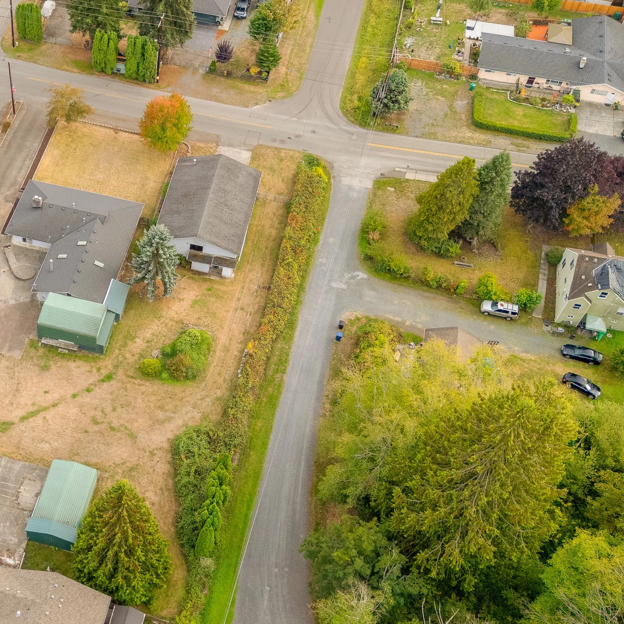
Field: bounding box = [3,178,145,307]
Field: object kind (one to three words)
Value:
house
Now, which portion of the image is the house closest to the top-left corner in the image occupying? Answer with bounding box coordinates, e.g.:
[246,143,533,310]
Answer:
[180,0,230,28]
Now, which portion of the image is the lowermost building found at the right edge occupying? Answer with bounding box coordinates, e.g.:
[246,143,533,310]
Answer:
[552,247,624,335]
